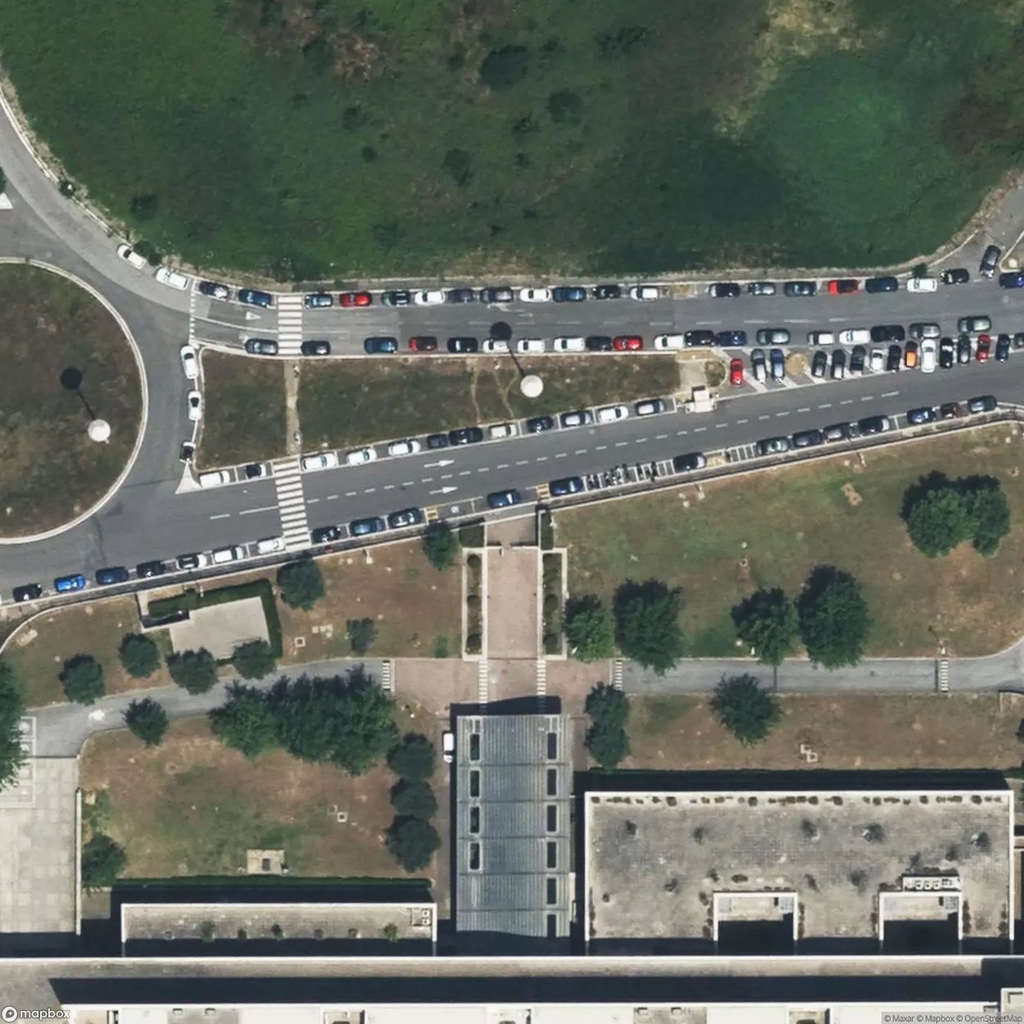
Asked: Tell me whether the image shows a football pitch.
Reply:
No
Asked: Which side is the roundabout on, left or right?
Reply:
left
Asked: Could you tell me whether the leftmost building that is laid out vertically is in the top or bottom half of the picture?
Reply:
bottom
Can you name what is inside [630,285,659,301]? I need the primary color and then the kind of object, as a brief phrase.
white car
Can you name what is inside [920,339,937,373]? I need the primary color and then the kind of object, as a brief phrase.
white vehicle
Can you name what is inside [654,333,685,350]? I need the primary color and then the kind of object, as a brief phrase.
white car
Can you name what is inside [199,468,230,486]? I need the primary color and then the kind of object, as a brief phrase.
white vehicle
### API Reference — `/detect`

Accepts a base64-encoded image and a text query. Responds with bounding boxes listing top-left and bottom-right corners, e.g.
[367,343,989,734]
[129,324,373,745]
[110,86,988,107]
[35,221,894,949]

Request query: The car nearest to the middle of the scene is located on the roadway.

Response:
[487,490,521,508]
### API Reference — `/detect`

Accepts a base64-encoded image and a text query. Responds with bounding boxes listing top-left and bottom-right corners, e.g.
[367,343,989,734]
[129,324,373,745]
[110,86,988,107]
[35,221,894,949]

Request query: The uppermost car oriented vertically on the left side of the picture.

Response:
[181,346,198,379]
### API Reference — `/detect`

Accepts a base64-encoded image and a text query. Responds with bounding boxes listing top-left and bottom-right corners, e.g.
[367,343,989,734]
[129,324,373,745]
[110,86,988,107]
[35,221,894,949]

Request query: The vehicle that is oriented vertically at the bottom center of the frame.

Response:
[441,731,456,762]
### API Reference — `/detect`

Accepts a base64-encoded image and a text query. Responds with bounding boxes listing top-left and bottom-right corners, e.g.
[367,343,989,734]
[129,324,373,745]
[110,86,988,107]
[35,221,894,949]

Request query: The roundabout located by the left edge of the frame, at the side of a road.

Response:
[0,260,144,542]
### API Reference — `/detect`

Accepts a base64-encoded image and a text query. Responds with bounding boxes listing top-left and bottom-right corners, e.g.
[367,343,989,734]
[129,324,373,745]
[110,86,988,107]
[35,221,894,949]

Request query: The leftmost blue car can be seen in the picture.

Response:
[53,574,86,592]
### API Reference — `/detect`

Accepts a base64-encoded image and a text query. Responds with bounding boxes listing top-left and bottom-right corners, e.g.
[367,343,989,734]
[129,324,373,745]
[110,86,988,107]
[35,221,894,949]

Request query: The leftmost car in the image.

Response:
[13,583,42,600]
